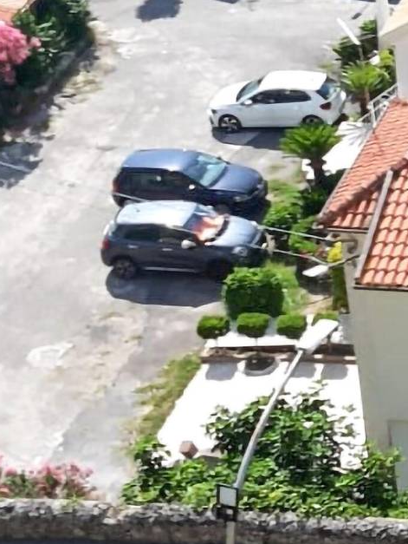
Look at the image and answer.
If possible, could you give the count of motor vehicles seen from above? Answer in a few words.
three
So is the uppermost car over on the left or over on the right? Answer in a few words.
right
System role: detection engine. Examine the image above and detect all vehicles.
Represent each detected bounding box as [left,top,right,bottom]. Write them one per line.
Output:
[205,65,343,134]
[121,141,276,213]
[96,195,267,279]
